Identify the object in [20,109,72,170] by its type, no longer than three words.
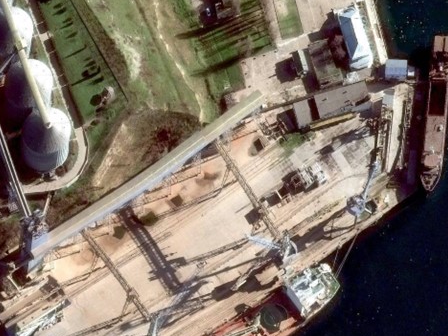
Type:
silo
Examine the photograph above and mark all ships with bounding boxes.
[421,36,448,193]
[196,260,339,336]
